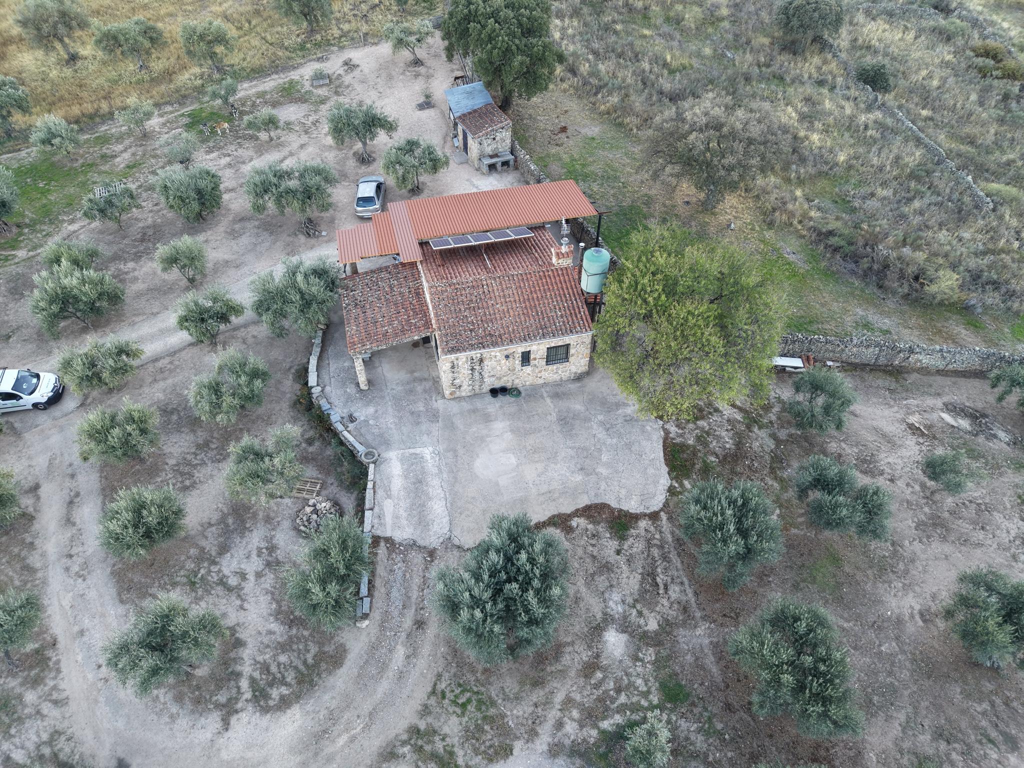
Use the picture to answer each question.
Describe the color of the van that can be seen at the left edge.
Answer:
white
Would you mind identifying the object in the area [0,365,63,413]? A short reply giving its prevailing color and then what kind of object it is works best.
white van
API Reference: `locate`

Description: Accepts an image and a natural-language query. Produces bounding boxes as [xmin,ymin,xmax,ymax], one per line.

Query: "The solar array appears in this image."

[431,227,535,271]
